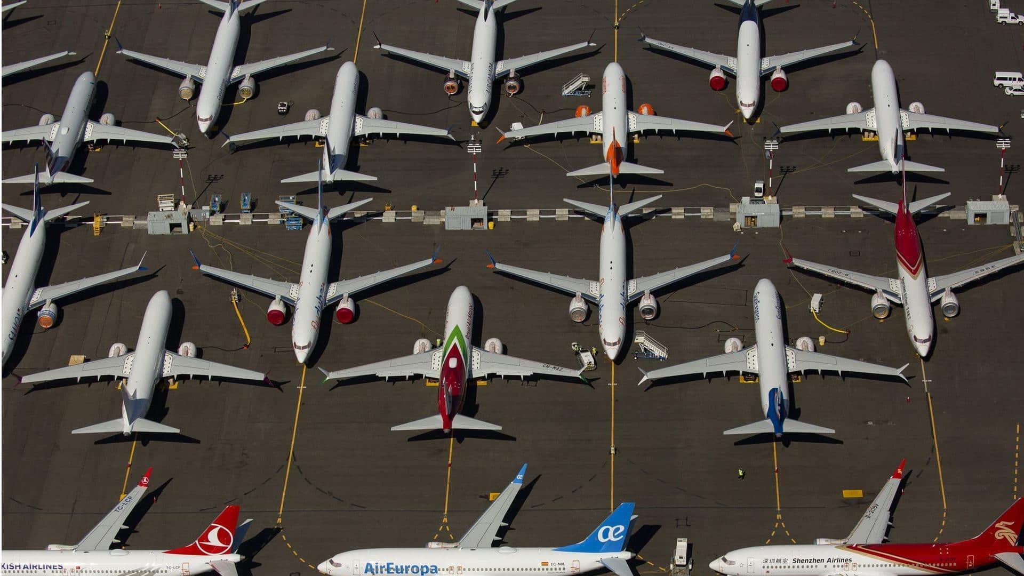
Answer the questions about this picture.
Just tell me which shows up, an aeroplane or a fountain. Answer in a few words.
aeroplane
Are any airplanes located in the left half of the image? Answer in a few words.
Yes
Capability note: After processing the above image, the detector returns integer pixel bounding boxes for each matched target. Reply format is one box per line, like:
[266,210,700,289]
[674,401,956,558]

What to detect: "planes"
[709,458,1024,576]
[782,152,1024,358]
[373,0,596,125]
[114,0,336,135]
[8,291,275,436]
[638,280,909,438]
[220,63,456,185]
[0,73,181,186]
[190,160,442,364]
[0,467,253,576]
[486,158,739,361]
[496,64,733,177]
[317,463,638,576]
[318,287,587,433]
[0,163,148,360]
[772,61,1010,174]
[637,0,862,122]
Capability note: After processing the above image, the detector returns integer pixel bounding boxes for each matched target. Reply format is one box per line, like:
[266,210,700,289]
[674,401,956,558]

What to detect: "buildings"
[146,207,191,234]
[967,197,1011,224]
[443,202,489,230]
[735,199,781,227]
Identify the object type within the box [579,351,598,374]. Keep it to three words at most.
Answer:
vehicle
